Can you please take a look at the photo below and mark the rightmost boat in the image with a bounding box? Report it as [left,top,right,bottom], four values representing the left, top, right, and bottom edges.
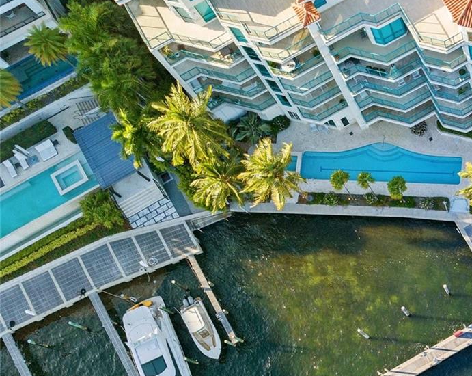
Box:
[179,300,222,359]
